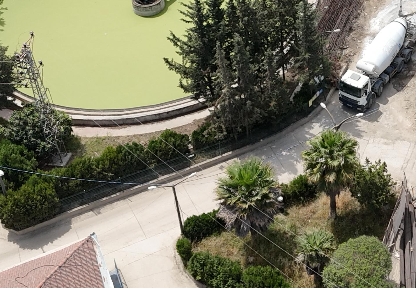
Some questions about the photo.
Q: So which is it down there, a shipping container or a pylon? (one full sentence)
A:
It is a pylon that can be seen here.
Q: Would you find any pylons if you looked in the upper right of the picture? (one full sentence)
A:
No, I see no pylon in the upper right of the picture.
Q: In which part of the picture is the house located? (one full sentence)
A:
The house is in the bottom left part of the image.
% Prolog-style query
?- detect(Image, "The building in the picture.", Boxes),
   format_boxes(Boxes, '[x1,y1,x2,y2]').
[0,233,105,288]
